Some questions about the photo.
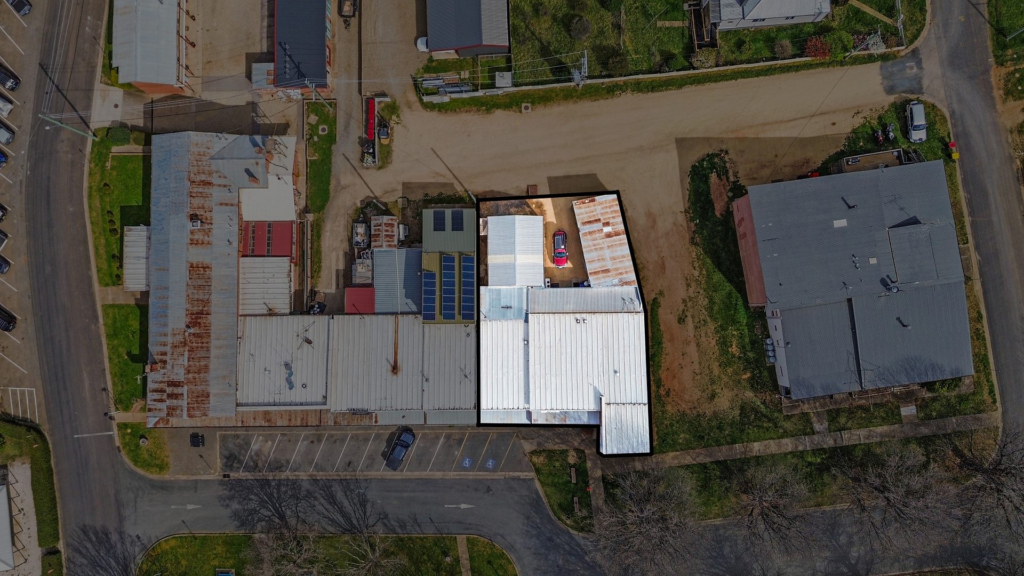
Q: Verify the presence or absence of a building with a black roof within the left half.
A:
Yes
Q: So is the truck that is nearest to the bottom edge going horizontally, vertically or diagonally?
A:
diagonally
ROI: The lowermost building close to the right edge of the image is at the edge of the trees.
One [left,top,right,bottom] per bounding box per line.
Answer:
[721,159,975,401]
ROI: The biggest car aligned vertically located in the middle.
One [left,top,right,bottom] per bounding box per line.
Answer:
[551,229,570,270]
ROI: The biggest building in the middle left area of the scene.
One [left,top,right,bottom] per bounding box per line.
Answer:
[146,132,304,427]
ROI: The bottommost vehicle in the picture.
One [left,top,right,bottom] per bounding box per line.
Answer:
[382,427,418,471]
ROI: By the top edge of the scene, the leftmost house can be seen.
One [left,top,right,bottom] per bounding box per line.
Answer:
[111,0,195,94]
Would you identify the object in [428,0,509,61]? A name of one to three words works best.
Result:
shed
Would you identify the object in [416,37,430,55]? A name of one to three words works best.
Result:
car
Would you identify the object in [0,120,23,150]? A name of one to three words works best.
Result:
car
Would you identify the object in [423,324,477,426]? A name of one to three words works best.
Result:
building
